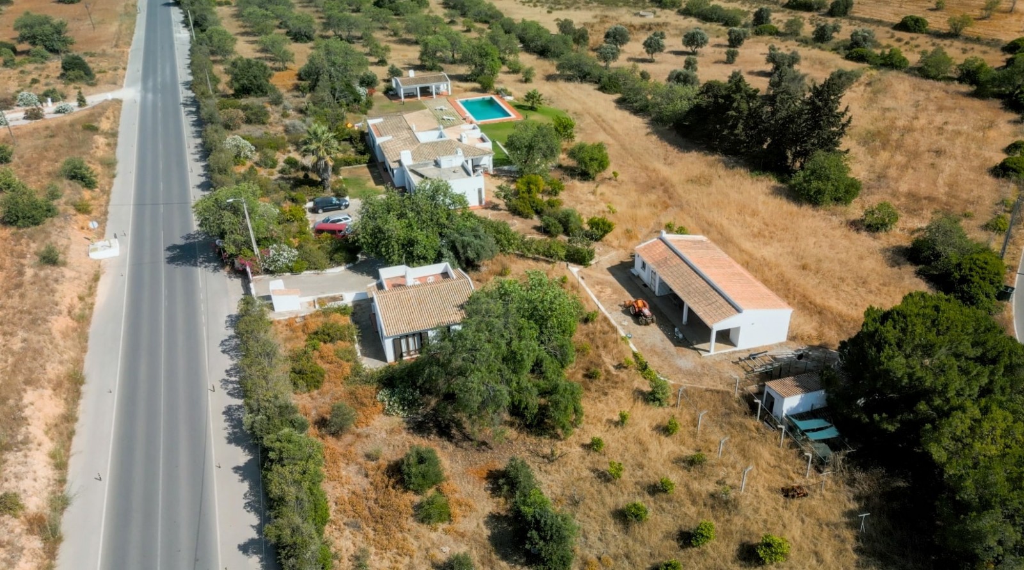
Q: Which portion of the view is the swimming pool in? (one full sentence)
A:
You can find the swimming pool in the top area of the picture.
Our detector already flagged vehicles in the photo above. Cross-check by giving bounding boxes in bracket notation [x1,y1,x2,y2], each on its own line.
[312,222,352,241]
[313,210,353,226]
[627,294,654,325]
[310,195,351,215]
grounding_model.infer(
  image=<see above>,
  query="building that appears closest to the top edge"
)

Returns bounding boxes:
[384,69,454,102]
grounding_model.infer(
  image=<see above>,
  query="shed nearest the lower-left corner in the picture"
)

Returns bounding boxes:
[272,280,299,310]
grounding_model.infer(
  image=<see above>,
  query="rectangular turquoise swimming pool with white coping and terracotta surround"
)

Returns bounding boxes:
[448,94,522,124]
